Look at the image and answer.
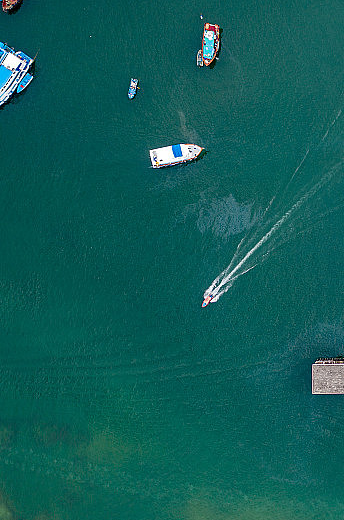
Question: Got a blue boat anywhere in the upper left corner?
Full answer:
Yes, a blue boat can be seen in the upper left corner.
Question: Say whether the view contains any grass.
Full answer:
No, the scene doesn't show any grass.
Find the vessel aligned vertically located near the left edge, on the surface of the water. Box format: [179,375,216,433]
[0,39,32,112]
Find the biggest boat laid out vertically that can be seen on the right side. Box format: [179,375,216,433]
[201,23,221,67]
